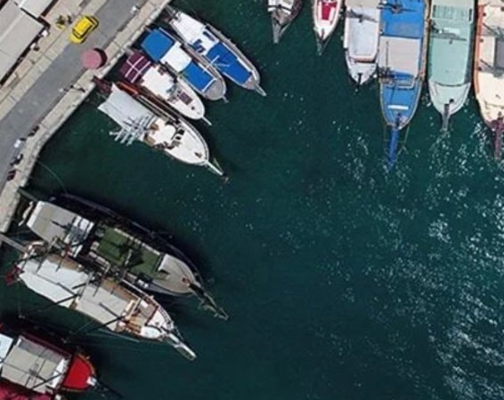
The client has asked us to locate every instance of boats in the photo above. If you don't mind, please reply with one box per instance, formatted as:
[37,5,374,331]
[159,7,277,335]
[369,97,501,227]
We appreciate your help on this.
[339,0,384,94]
[135,27,227,99]
[76,75,225,176]
[155,1,267,95]
[0,228,196,359]
[260,0,301,42]
[0,316,123,400]
[474,0,504,161]
[367,0,431,167]
[310,0,344,54]
[0,374,64,400]
[428,0,477,130]
[3,169,229,319]
[111,52,212,126]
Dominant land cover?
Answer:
water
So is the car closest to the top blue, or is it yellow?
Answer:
yellow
